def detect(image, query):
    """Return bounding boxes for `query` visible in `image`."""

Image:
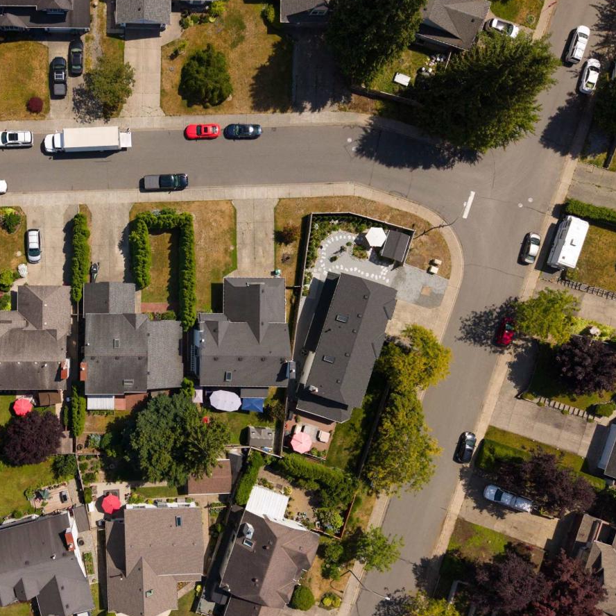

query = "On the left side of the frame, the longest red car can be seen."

[184,123,219,140]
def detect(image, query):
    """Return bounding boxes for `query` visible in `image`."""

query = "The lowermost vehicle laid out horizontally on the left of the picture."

[144,174,188,191]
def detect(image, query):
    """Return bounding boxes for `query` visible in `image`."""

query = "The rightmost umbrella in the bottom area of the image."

[291,429,312,451]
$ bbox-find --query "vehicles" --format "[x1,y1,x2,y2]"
[184,123,219,140]
[519,231,541,266]
[68,41,85,77]
[455,429,476,463]
[92,265,99,280]
[144,174,188,191]
[491,315,514,349]
[224,123,260,140]
[43,126,132,153]
[544,214,586,269]
[0,130,33,147]
[0,181,8,194]
[493,17,518,34]
[563,25,589,68]
[50,57,67,100]
[25,228,41,264]
[577,60,600,95]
